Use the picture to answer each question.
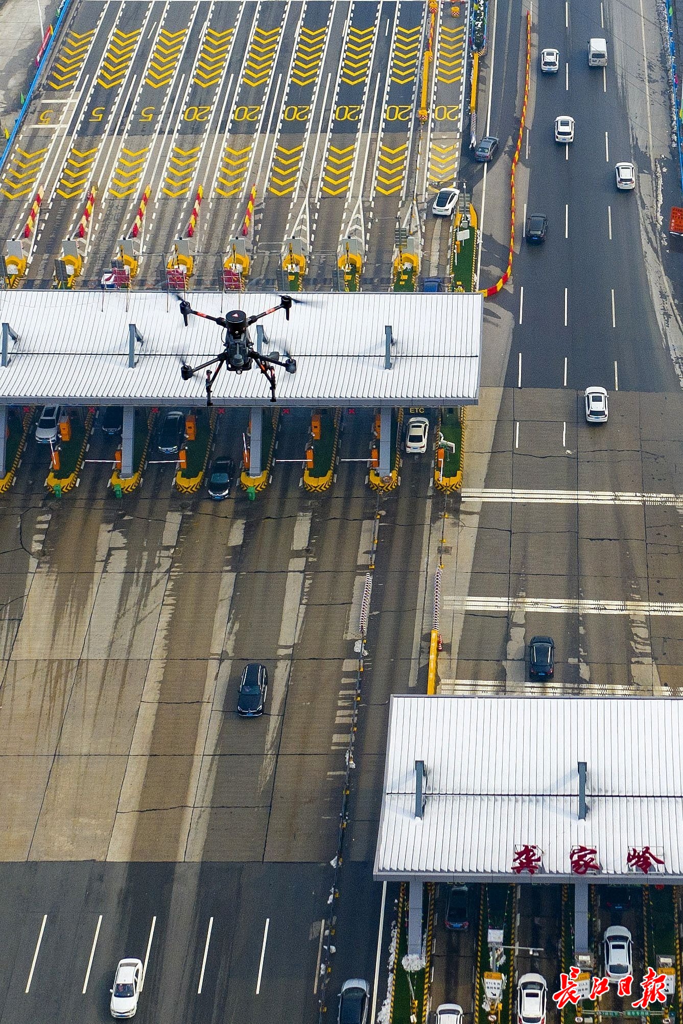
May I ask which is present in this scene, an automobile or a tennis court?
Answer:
automobile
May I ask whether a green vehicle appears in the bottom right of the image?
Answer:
No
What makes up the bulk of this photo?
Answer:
paved ground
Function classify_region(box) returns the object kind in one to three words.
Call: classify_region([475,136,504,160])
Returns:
car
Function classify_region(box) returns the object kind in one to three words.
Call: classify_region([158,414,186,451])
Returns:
car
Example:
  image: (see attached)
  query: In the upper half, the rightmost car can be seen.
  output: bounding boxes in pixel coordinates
[614,163,636,189]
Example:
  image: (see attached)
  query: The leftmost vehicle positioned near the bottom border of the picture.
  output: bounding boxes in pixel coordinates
[108,954,148,1017]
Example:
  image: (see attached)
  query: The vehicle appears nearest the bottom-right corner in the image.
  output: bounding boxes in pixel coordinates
[600,924,634,983]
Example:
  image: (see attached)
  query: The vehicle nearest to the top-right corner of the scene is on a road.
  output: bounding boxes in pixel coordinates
[587,38,607,65]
